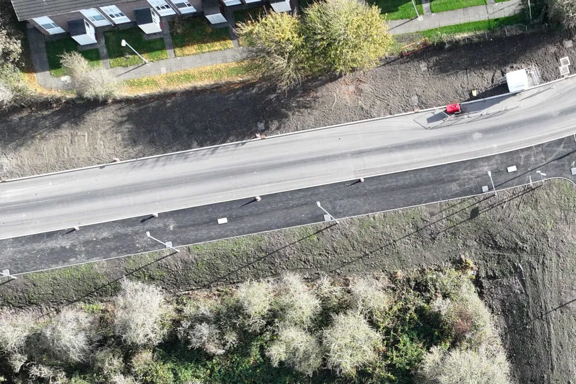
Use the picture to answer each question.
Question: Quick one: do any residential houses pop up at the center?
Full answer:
No, there's no residential house to be seen at the center.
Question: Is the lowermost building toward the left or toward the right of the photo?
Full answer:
The lowermost building sits on the right side.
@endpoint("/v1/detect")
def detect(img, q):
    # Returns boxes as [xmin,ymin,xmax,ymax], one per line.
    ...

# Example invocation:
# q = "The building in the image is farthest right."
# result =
[496,68,538,101]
